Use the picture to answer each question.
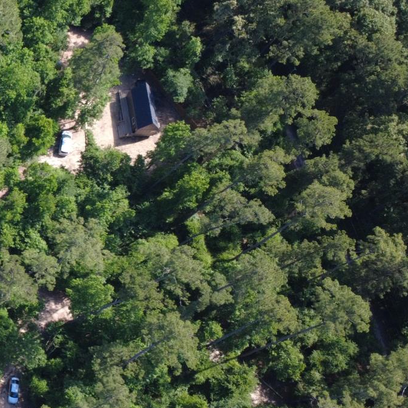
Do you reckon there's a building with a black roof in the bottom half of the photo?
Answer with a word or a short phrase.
No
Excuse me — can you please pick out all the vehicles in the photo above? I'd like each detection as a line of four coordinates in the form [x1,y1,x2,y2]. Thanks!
[57,130,73,157]
[6,374,21,407]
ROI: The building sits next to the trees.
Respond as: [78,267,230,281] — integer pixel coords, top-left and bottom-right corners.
[111,82,160,135]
